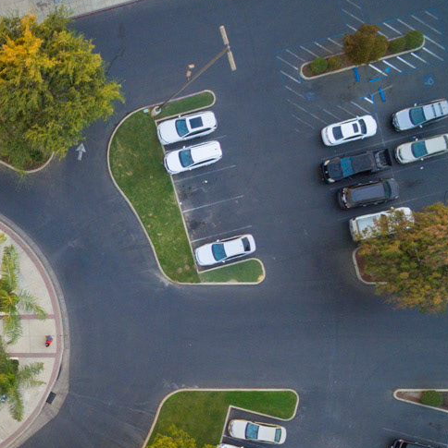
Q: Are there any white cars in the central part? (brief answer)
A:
Yes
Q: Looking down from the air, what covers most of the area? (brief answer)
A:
paved ground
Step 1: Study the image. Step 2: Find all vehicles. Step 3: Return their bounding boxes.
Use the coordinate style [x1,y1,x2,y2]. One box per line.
[191,234,254,268]
[315,144,395,186]
[315,114,375,149]
[386,99,448,135]
[331,176,396,211]
[343,206,415,244]
[390,134,448,167]
[224,417,285,446]
[160,142,223,176]
[154,110,217,147]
